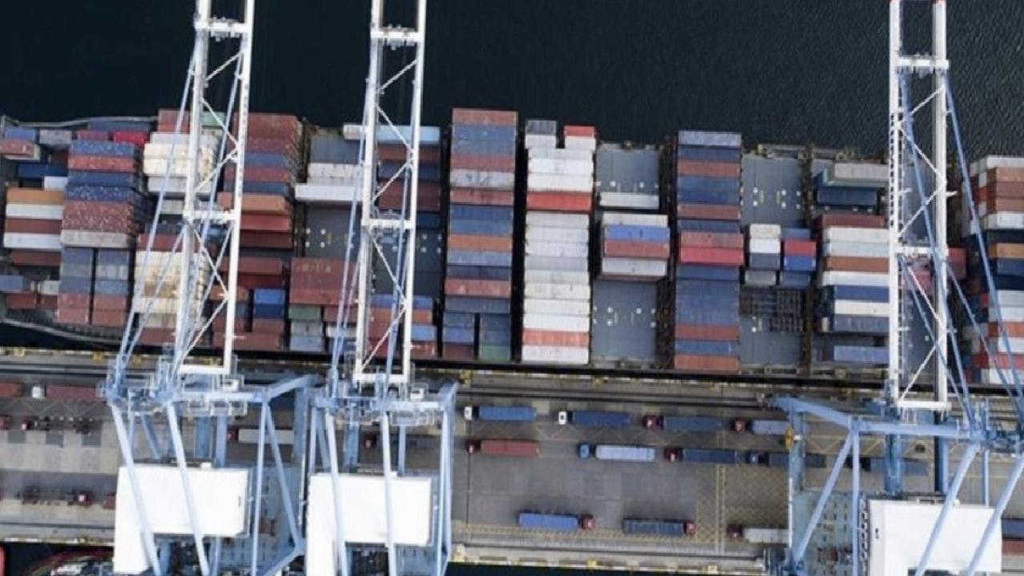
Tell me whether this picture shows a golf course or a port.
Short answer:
port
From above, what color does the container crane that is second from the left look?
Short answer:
white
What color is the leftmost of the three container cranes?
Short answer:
white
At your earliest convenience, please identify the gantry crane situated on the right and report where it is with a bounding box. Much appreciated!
[751,0,1024,576]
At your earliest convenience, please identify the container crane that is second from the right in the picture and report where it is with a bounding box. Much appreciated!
[293,0,476,576]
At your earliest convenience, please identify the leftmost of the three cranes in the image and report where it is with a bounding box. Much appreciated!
[103,0,329,576]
